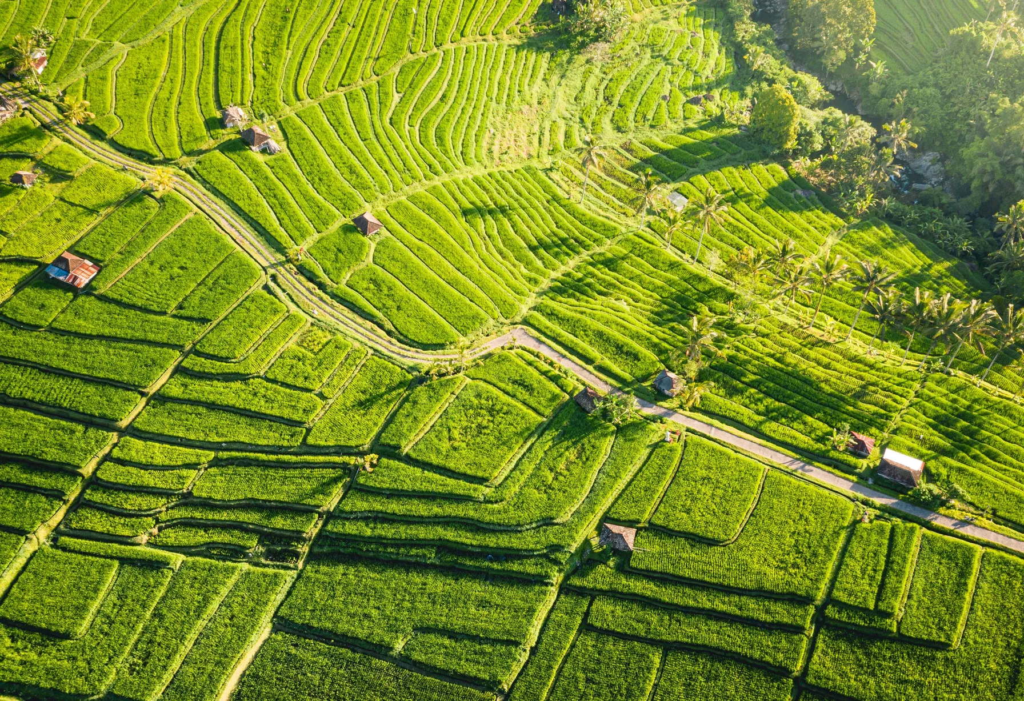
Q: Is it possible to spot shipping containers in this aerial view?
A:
No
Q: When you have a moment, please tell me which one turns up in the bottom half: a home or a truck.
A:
home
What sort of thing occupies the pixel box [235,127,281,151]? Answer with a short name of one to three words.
shed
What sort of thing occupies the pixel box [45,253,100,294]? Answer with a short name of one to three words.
building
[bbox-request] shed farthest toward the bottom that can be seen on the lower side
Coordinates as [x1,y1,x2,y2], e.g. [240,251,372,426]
[593,524,648,556]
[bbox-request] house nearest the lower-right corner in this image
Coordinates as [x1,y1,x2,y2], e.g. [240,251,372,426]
[875,451,923,498]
